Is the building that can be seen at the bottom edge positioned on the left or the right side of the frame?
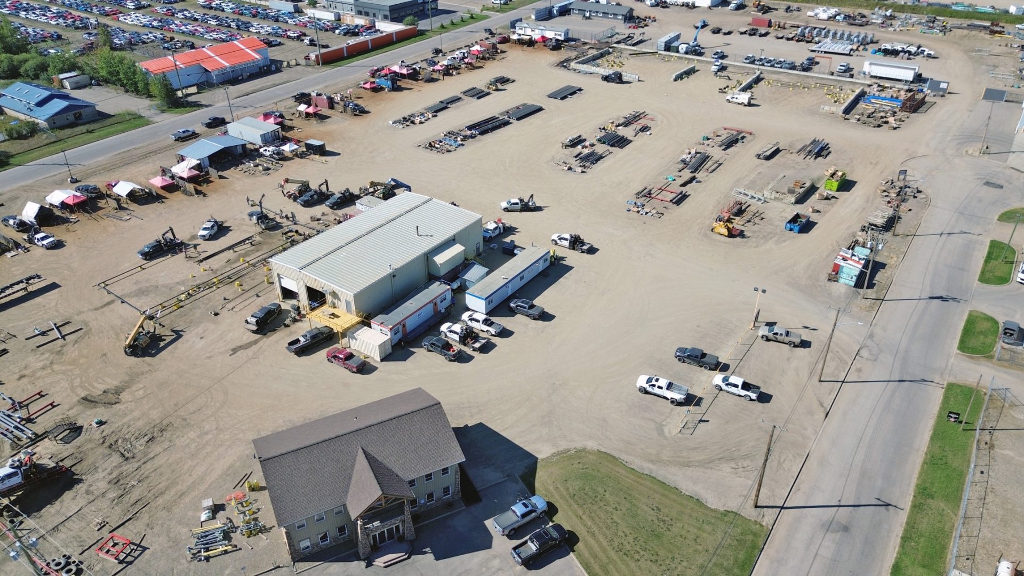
left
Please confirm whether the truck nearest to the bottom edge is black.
Yes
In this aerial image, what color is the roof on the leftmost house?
blue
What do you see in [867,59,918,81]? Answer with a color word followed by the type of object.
white trailer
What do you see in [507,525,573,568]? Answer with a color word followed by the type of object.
black truck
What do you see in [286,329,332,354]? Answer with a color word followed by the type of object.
black truck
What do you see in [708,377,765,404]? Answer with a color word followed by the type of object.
white truck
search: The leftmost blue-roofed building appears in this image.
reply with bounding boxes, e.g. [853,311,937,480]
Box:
[4,81,108,129]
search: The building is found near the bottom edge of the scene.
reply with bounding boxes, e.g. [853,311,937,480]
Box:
[249,388,466,568]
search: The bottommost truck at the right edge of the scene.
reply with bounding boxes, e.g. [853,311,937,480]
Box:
[999,320,1022,352]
